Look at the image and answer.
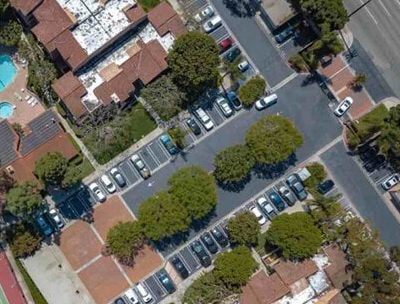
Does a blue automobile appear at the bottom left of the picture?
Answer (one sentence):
Yes, the scene does show a blue automobile at the bottom left of the picture.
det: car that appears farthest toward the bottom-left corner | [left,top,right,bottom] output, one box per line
[35,215,54,236]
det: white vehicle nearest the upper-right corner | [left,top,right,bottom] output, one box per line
[335,96,352,117]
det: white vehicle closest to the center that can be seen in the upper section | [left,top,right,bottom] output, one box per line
[196,107,213,129]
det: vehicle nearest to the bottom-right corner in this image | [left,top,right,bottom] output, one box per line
[381,171,400,188]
